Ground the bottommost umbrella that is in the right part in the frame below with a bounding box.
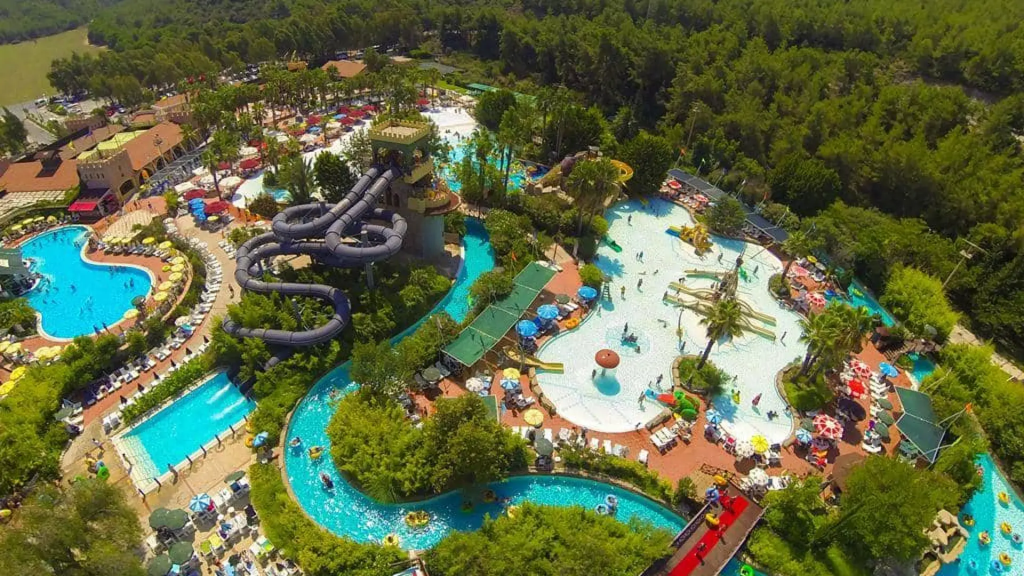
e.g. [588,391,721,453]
[745,468,769,493]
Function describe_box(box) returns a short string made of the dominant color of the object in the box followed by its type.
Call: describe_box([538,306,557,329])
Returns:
blue umbrella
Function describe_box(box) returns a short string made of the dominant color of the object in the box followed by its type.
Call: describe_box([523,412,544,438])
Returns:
yellow umbrella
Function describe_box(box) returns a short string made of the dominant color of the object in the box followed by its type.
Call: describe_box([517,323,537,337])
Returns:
blue umbrella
